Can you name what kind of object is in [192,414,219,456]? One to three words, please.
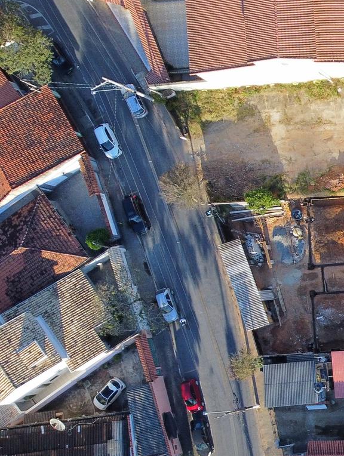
car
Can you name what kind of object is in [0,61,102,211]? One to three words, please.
house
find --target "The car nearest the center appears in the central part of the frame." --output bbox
[123,193,156,236]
